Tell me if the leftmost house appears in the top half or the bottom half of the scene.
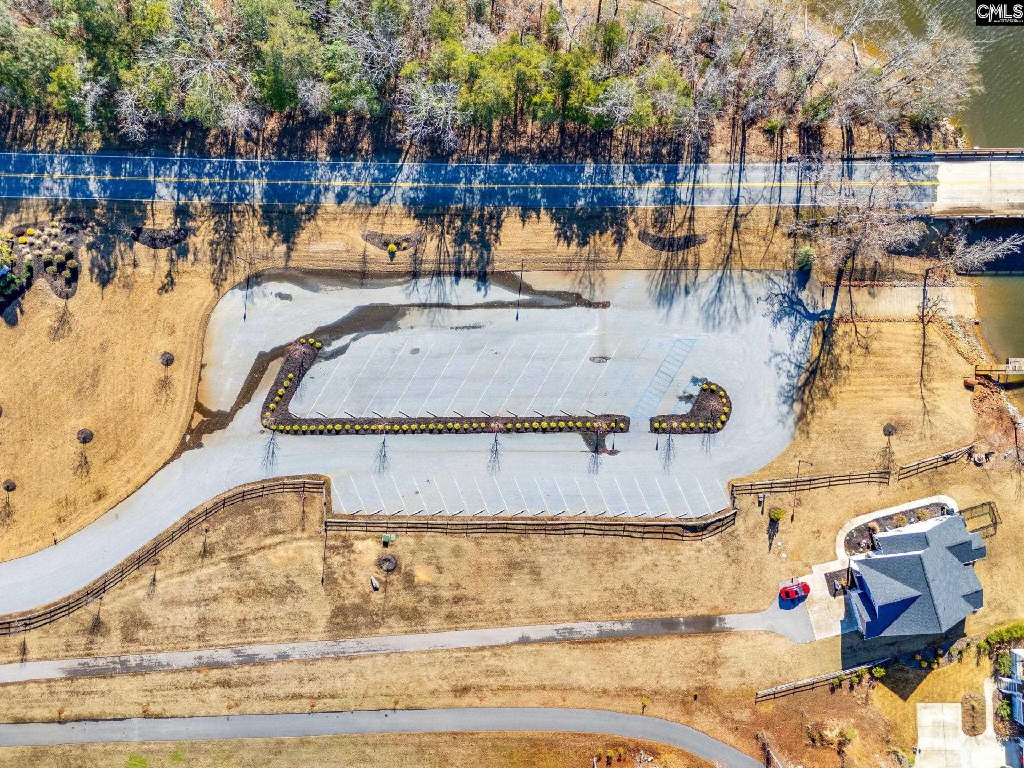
bottom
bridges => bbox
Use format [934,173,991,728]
[931,153,1024,219]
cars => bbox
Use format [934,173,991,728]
[781,583,811,601]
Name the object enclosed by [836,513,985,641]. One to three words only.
house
